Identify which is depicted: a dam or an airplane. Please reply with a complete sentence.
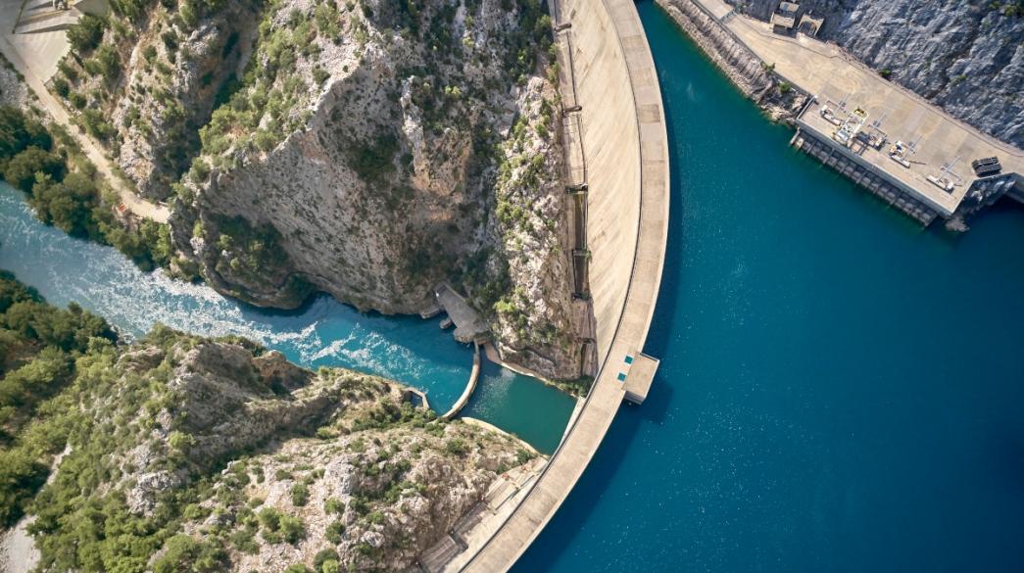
Of the two, only a dam appears.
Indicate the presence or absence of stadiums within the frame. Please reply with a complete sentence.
No, there's no stadium here.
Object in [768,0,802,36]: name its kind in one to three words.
building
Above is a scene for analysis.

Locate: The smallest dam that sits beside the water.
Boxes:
[441,341,481,419]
